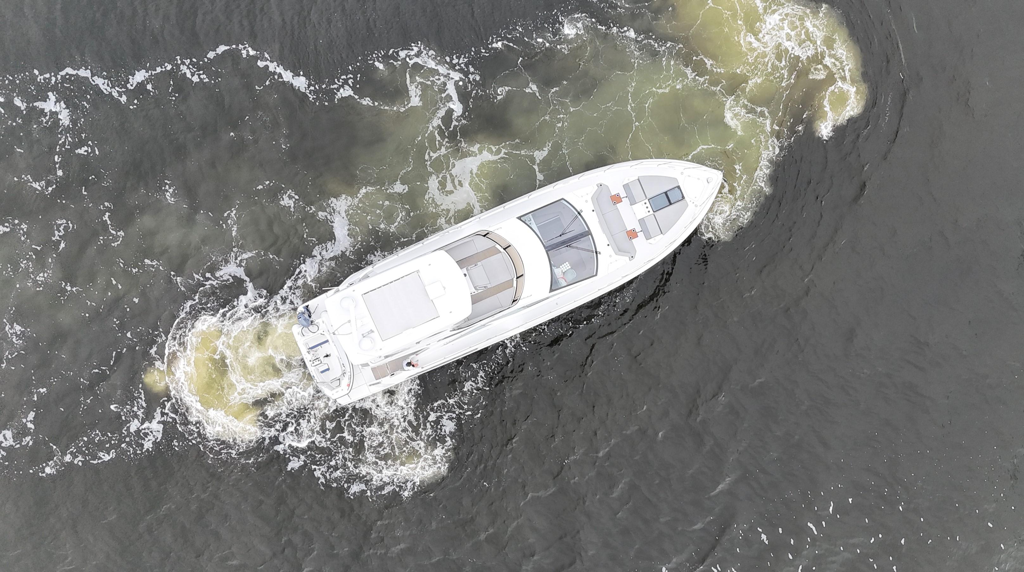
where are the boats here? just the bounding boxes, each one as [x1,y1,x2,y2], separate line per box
[298,158,726,404]
[292,305,354,400]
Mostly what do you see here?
water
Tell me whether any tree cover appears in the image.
No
